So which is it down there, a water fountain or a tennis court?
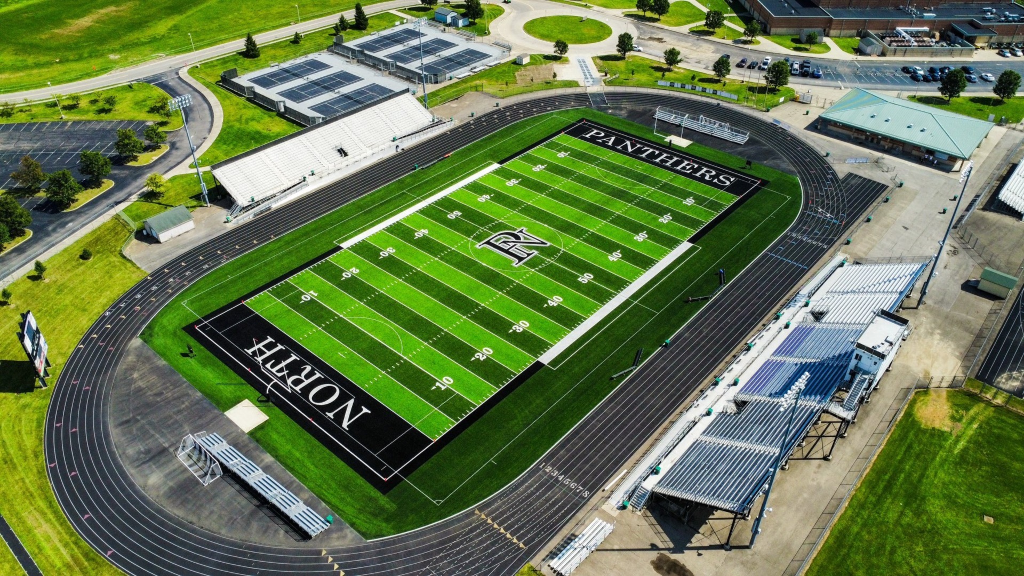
tennis court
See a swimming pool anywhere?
No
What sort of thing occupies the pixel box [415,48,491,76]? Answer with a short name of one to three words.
tennis court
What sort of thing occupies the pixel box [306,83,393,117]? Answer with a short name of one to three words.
tennis court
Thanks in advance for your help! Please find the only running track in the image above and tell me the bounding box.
[40,92,884,576]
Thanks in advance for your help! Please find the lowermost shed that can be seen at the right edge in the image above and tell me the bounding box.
[976,267,1021,299]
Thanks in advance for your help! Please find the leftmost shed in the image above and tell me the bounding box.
[143,205,194,243]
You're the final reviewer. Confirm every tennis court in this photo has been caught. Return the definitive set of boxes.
[276,70,365,103]
[306,83,393,117]
[247,59,333,89]
[353,28,425,53]
[415,48,491,76]
[383,38,459,65]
